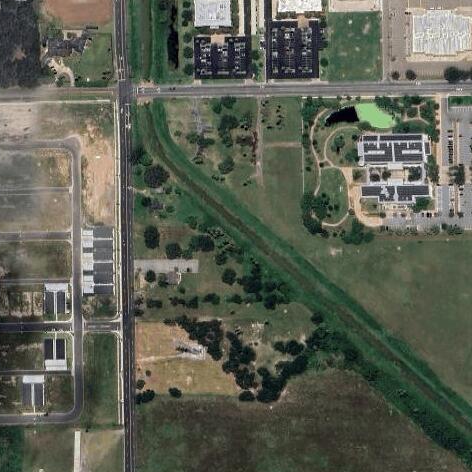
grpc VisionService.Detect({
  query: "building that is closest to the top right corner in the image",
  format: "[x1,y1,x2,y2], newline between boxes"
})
[413,10,472,57]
